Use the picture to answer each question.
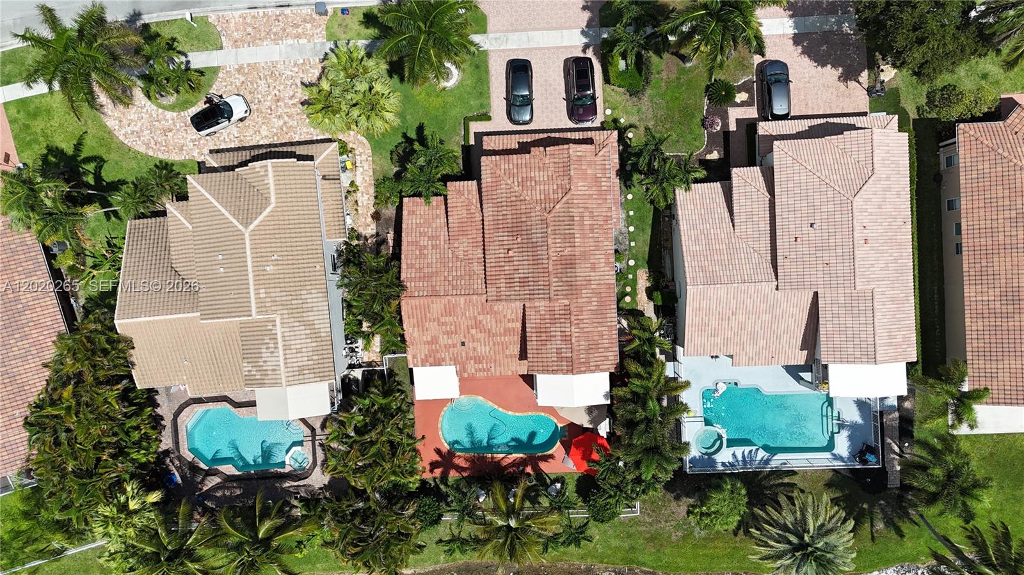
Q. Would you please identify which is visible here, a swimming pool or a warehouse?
swimming pool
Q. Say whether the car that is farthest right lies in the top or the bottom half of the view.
top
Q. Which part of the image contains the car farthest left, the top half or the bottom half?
top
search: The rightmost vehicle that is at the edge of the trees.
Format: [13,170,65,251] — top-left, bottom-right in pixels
[762,56,795,118]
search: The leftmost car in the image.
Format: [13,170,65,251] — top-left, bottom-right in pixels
[187,90,249,135]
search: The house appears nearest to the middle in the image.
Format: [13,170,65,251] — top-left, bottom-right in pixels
[401,128,621,378]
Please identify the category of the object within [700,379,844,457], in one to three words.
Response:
swimming pool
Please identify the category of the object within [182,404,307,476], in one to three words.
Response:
swimming pool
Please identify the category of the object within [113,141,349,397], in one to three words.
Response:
house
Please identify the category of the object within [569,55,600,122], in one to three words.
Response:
car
